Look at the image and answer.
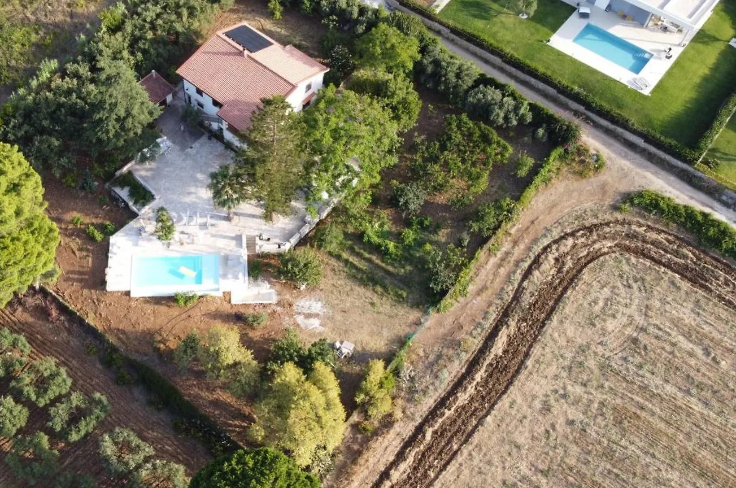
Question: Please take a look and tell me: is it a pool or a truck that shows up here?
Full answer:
The image shows a pool.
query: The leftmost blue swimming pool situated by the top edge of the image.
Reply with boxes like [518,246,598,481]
[573,24,652,73]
